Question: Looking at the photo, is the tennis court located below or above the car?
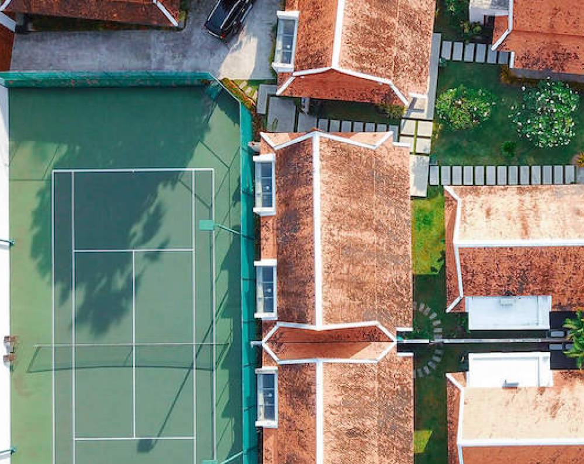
below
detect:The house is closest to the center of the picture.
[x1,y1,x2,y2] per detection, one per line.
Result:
[254,130,414,342]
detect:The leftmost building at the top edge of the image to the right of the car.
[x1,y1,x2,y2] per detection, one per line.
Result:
[274,0,433,108]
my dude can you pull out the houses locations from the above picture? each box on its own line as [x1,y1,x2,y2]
[470,0,584,75]
[274,0,433,108]
[256,341,415,464]
[444,352,584,464]
[443,185,584,330]
[0,0,184,29]
[254,130,414,342]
